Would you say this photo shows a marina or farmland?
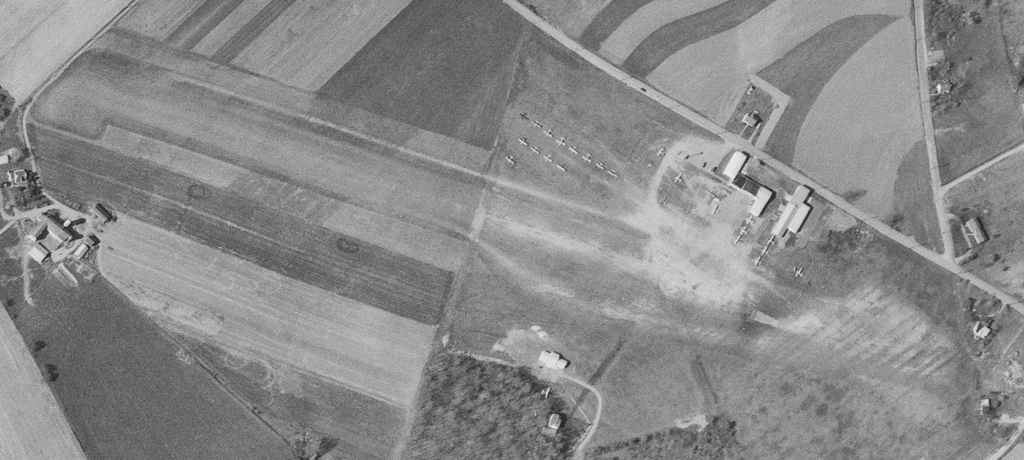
farmland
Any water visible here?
No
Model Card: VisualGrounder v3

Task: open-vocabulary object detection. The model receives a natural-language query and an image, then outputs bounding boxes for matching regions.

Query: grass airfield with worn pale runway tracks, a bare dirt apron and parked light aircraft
[34,29,795,352]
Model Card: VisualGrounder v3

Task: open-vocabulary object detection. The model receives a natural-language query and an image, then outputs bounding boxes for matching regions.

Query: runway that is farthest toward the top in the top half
[34,52,486,240]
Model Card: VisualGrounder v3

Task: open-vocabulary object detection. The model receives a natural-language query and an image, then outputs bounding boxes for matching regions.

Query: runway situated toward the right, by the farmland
[443,182,795,352]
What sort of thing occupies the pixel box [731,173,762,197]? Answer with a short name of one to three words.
building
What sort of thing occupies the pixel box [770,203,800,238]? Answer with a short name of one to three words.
hangar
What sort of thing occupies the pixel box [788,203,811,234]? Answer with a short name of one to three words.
hangar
